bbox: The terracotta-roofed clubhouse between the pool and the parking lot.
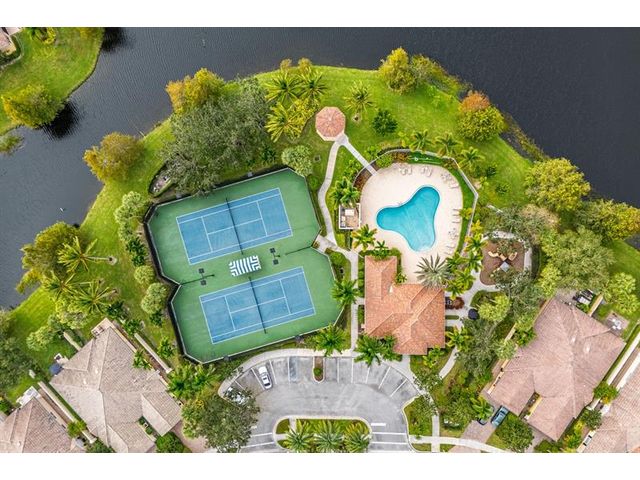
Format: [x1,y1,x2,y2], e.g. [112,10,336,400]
[365,256,445,356]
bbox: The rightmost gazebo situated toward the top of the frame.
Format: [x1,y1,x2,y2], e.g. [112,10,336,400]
[316,109,344,140]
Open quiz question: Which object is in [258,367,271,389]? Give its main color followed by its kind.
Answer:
white vehicle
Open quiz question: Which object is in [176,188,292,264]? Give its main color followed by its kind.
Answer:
blue tennis court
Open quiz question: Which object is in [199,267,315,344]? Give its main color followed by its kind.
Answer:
blue tennis court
